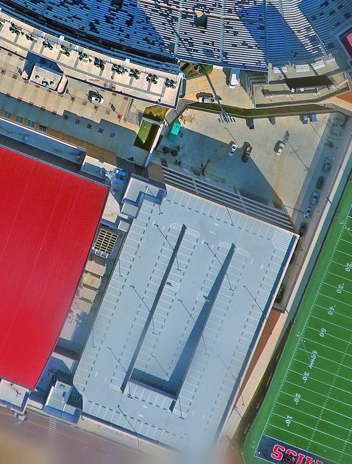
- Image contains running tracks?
No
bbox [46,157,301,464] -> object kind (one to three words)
building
